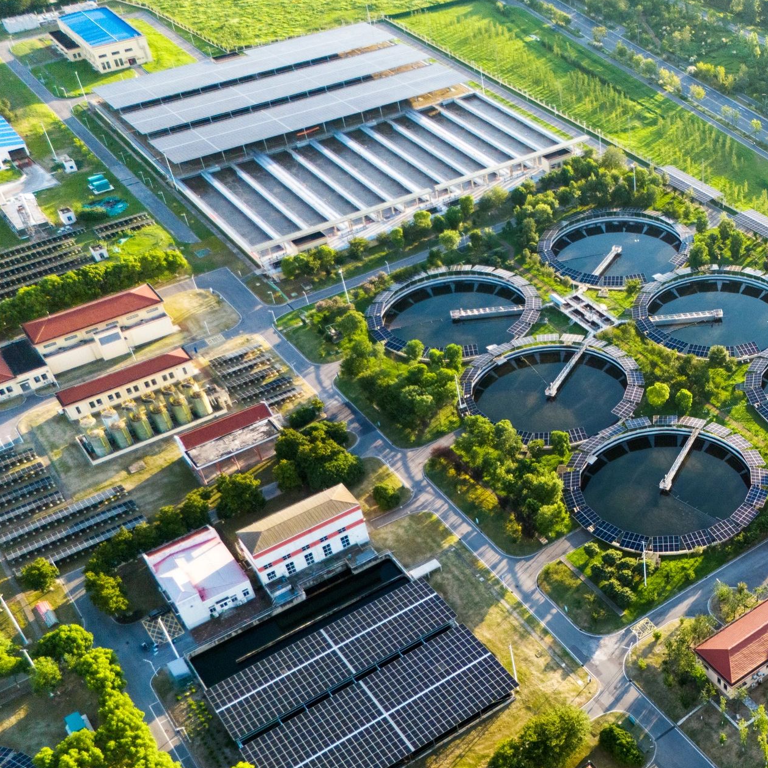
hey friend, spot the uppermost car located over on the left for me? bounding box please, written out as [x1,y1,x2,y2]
[141,600,173,622]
